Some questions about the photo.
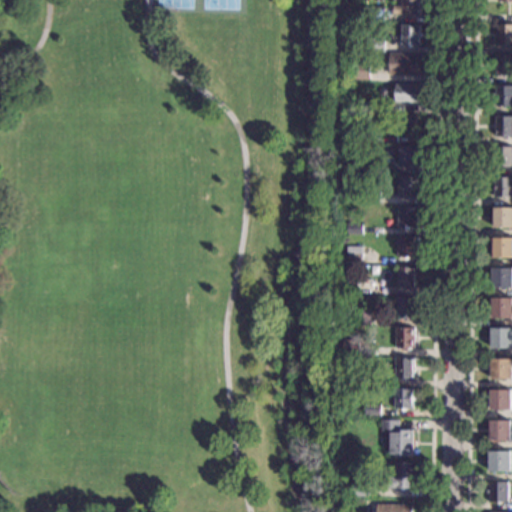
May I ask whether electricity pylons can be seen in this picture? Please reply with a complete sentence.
No, the photo shows no electricity pylon.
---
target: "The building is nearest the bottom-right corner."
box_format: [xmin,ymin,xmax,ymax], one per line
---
[496,482,510,506]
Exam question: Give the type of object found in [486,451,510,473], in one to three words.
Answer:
house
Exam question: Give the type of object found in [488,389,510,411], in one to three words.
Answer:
house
